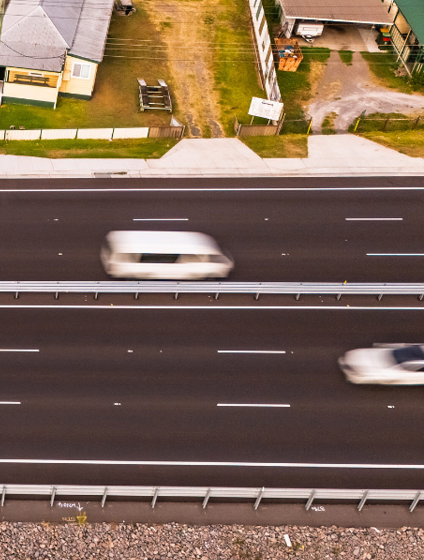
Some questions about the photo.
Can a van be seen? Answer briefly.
Yes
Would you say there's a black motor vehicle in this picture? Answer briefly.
No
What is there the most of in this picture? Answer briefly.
paved ground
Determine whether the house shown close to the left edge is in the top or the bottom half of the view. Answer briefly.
top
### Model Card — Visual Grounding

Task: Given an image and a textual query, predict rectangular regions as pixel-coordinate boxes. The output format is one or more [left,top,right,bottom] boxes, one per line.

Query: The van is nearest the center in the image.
[103,227,231,278]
